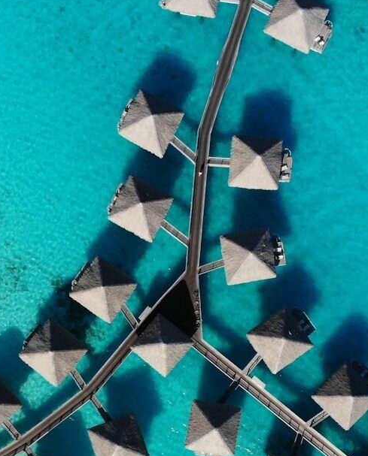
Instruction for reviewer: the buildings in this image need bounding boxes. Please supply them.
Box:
[310,358,368,431]
[245,304,316,376]
[16,317,89,388]
[262,0,334,54]
[116,90,186,157]
[107,175,175,241]
[226,135,293,192]
[218,228,286,287]
[86,410,152,456]
[68,255,138,324]
[0,377,22,427]
[182,397,243,456]
[162,0,219,19]
[129,310,195,378]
